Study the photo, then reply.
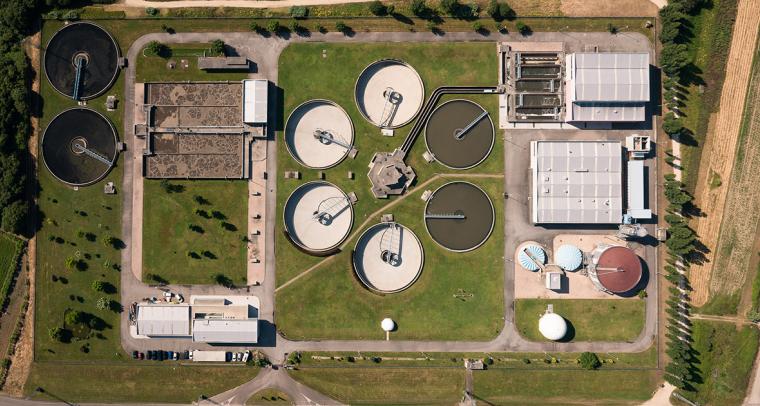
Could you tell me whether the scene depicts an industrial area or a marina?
industrial area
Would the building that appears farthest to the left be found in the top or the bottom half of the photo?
bottom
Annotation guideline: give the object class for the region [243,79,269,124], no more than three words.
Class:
house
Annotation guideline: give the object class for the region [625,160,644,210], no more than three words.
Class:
building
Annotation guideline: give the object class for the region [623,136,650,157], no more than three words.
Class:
building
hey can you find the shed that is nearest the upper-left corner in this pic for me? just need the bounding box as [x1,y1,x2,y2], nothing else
[198,57,250,71]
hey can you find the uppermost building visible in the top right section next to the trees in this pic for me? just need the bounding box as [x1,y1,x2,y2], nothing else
[571,53,650,103]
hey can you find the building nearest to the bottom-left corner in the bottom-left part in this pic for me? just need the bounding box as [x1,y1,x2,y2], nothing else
[137,304,191,335]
